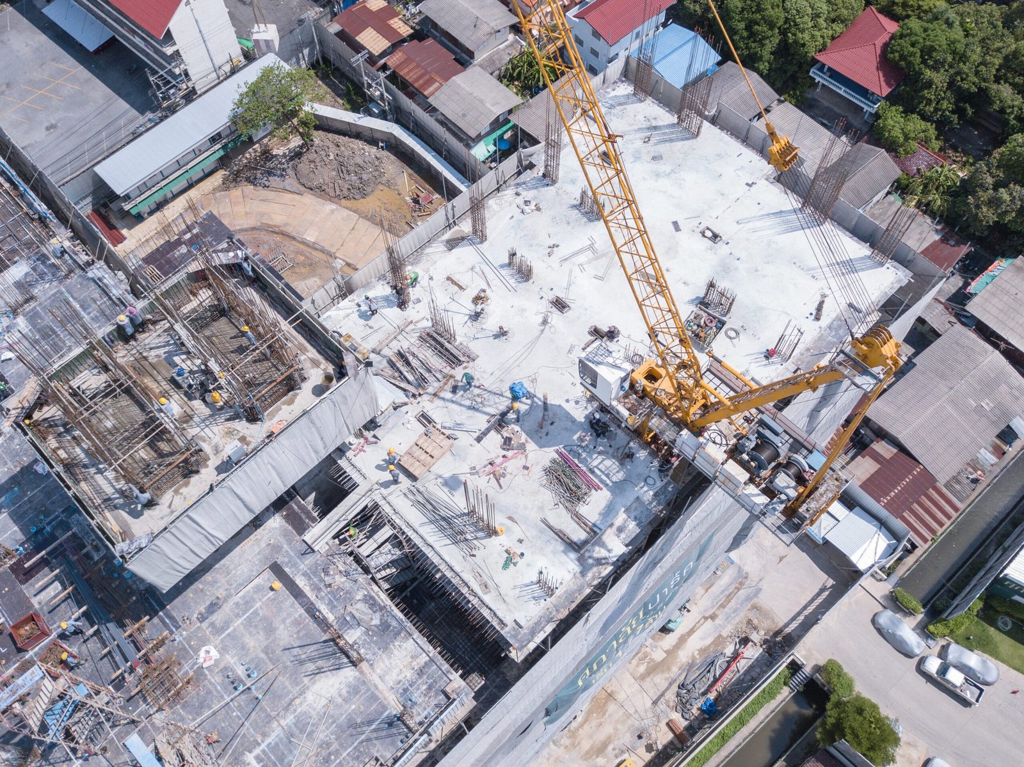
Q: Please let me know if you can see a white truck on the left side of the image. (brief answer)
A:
No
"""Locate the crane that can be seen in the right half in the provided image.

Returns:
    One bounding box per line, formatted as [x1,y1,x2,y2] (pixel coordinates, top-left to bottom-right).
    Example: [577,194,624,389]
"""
[521,0,907,556]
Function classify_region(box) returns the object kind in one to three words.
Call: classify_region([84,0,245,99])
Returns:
building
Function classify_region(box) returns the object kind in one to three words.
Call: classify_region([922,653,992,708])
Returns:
truck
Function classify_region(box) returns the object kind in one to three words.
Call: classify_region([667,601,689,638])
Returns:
work vehicle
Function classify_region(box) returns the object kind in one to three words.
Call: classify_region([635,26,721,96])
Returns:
house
